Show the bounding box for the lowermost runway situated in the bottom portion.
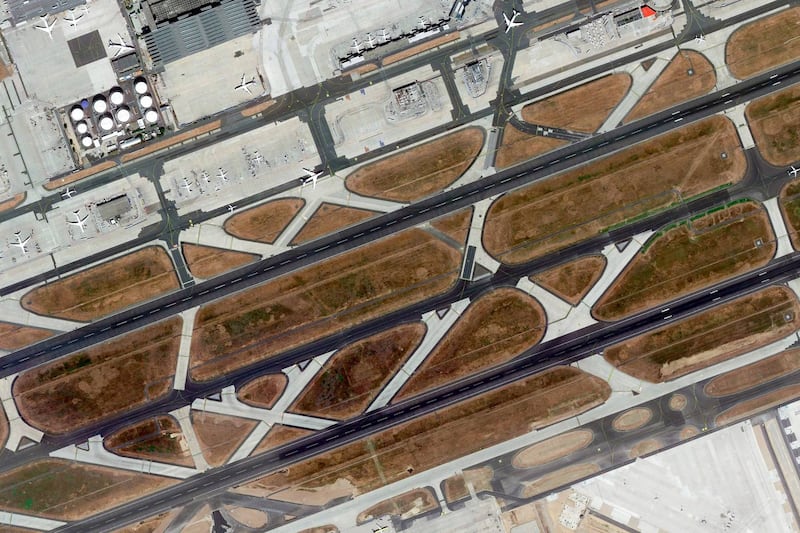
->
[42,252,800,533]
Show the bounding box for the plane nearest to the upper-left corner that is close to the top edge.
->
[34,15,57,38]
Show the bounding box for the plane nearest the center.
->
[301,170,323,190]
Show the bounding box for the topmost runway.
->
[0,59,800,381]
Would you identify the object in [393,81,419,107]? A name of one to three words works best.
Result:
building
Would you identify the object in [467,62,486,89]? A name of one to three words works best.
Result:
building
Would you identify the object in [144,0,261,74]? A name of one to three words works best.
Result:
hangar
